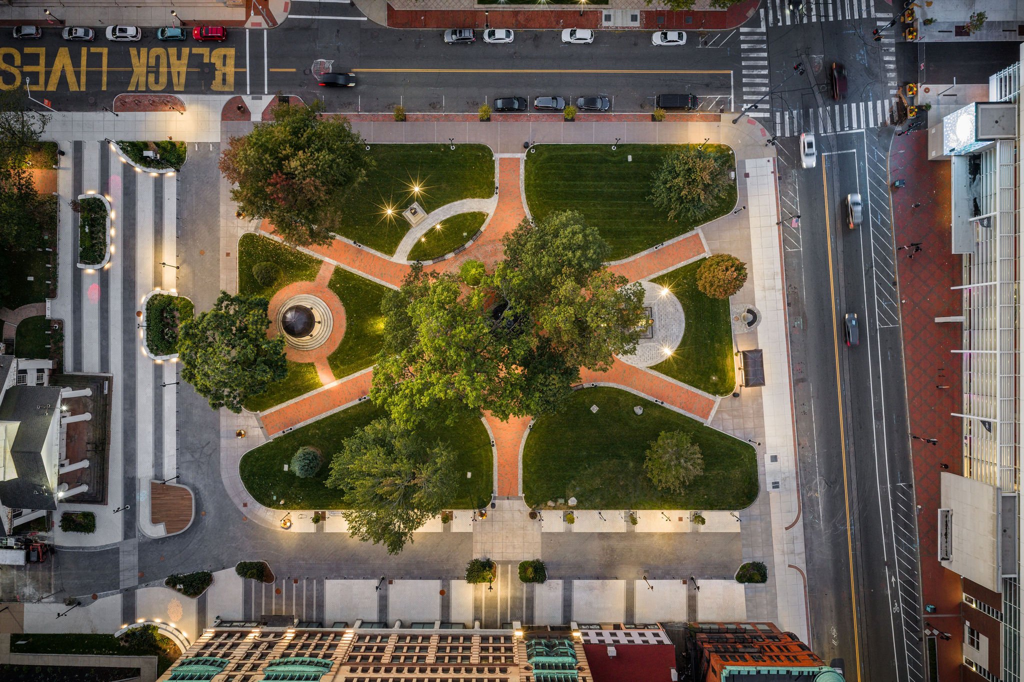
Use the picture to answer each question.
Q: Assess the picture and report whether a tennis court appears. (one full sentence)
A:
No, there appears to be no tennis court in this shot.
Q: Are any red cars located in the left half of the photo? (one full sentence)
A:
Yes, you'll find a red car in the left half of the photo.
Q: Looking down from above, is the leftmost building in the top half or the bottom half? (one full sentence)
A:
Seen from above, the leftmost building lies in the bottom half of the view.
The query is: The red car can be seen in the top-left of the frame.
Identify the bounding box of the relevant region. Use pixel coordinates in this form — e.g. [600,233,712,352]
[190,22,226,41]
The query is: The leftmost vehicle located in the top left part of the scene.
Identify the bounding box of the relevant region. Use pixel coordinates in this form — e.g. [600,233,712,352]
[9,22,40,39]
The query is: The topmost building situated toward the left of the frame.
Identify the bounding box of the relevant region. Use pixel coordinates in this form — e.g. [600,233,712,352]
[0,355,111,545]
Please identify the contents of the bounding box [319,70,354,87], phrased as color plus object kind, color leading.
black car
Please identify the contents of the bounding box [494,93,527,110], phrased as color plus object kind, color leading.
black car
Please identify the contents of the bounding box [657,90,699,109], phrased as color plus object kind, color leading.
black vehicle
